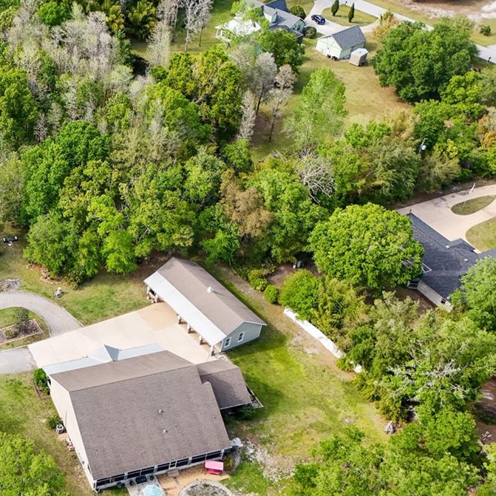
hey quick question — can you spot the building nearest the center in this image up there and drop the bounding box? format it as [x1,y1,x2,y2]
[145,258,266,355]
